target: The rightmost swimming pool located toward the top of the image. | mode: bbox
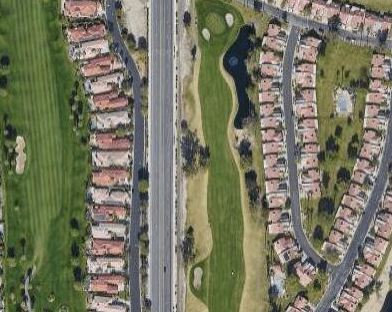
[335,91,353,115]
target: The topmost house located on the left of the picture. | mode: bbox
[64,0,105,16]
